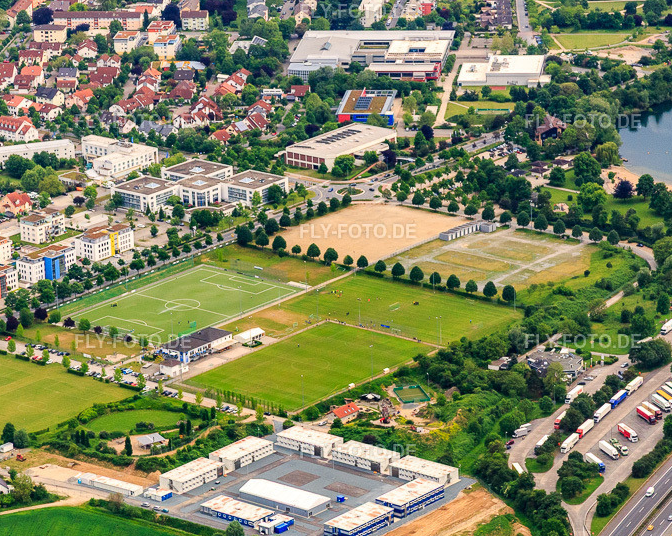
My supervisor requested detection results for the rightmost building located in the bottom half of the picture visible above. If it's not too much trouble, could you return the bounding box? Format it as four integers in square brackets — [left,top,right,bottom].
[529,349,583,378]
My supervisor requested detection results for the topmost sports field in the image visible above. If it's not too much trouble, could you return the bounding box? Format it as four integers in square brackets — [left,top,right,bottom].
[281,203,467,262]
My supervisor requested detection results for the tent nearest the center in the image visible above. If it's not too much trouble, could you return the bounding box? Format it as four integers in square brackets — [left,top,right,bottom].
[235,328,266,344]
